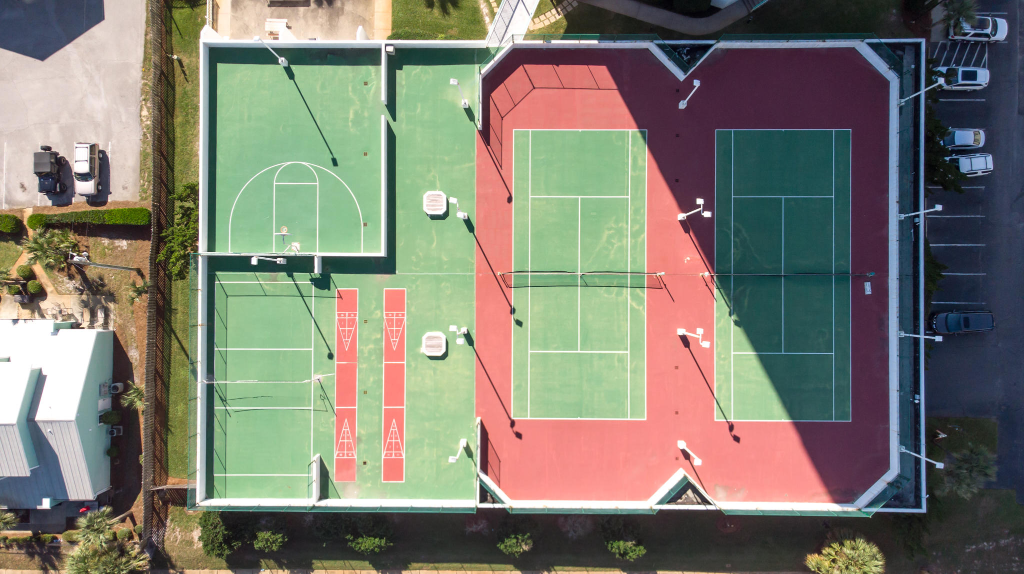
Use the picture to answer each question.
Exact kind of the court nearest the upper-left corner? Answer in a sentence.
The court nearest the upper-left corner appears to be a basketball court.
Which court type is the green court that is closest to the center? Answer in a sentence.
I'd say the green court that is closest to the center is a tennis court.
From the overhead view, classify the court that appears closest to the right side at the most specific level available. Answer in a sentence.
The court that appears closest to the right side is a tennis court.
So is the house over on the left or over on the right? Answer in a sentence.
The house is on the left side of the image.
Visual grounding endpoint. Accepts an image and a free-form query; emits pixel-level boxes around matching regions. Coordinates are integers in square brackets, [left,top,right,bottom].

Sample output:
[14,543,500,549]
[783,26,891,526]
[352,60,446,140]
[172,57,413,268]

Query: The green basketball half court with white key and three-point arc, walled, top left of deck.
[229,161,363,252]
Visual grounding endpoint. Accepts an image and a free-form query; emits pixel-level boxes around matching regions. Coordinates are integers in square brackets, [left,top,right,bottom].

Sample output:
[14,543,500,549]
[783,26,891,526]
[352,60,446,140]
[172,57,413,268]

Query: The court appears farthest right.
[716,130,851,421]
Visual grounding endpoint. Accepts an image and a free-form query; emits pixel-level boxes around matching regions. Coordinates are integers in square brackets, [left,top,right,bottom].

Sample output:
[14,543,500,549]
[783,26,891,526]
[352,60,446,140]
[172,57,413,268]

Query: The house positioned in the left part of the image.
[0,320,113,509]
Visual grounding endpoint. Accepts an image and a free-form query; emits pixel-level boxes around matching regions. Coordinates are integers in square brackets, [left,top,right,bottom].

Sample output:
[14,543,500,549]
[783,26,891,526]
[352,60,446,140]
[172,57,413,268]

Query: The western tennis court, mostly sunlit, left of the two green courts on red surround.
[512,130,647,420]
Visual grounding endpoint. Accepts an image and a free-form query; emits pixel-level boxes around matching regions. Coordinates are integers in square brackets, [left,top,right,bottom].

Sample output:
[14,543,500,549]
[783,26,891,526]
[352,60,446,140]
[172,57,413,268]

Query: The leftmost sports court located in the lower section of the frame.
[214,282,314,476]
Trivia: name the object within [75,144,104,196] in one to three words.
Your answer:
car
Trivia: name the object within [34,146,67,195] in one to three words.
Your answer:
vehicle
